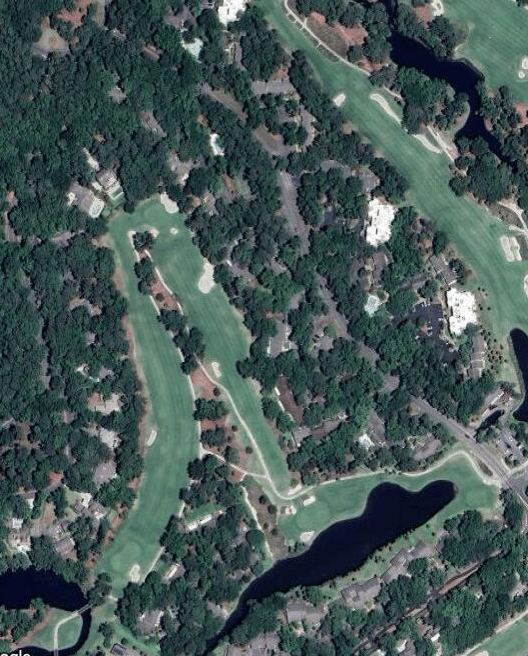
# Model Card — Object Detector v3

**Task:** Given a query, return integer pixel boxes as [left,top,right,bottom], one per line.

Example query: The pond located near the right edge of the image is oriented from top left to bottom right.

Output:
[356,0,519,170]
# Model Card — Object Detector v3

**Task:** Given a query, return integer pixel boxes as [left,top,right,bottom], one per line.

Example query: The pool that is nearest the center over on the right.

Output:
[365,295,381,316]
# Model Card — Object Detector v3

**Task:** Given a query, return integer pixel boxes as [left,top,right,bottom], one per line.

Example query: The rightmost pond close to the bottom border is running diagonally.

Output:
[201,480,457,656]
